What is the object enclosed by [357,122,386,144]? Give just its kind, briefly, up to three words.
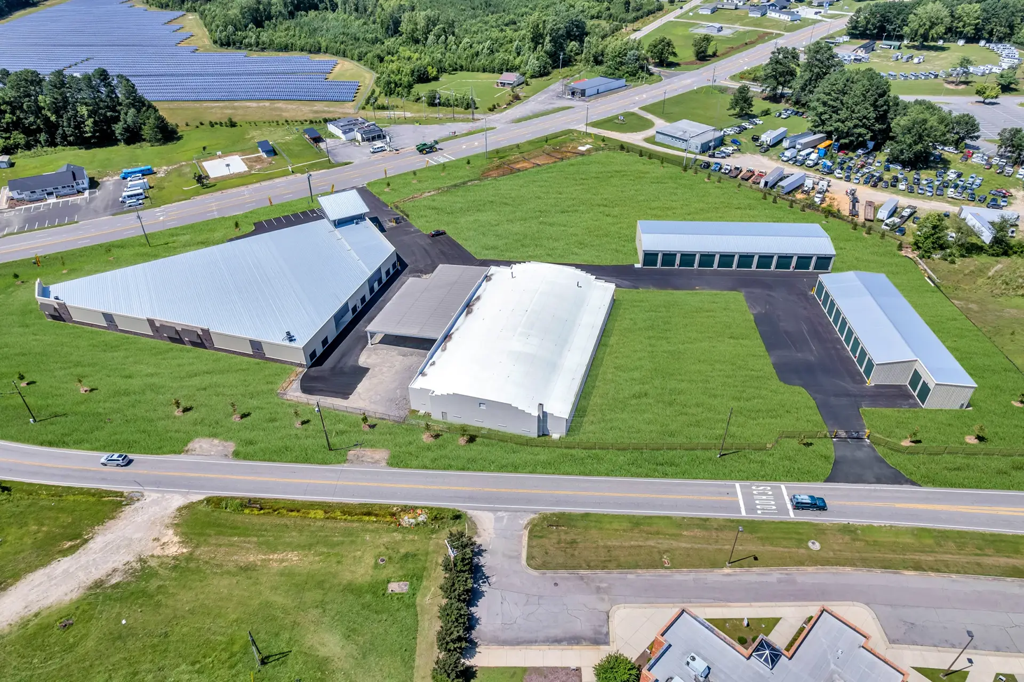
building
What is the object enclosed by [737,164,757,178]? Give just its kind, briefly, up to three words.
vehicle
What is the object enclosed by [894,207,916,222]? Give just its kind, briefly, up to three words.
vehicle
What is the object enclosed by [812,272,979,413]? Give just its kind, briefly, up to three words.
building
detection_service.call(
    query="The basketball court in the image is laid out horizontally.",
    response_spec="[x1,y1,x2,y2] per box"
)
[202,155,248,178]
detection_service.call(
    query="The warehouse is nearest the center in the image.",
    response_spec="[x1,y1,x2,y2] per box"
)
[408,263,615,444]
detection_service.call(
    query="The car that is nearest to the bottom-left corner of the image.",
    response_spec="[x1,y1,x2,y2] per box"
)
[97,450,131,467]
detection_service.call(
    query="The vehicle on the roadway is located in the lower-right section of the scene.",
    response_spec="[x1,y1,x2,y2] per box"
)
[789,490,831,511]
